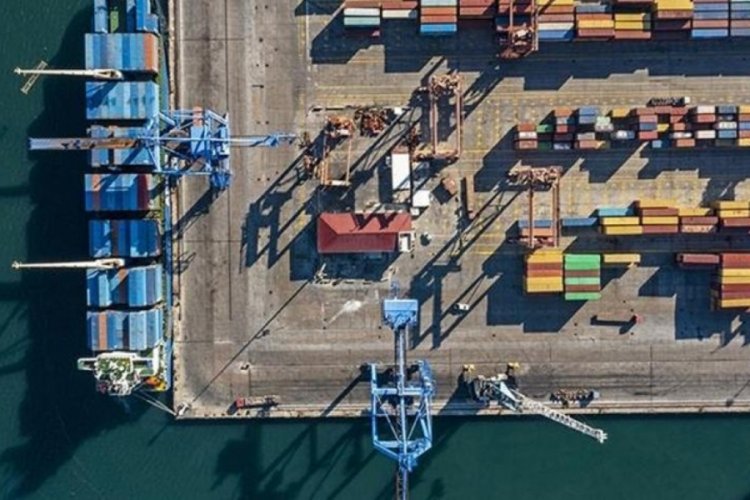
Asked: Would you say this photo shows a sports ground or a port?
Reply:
port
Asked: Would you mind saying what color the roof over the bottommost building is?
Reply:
red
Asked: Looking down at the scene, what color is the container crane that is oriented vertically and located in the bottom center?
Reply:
blue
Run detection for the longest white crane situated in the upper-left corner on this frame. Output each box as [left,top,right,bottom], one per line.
[13,67,130,81]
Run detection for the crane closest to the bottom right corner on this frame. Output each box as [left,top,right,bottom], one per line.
[464,364,611,441]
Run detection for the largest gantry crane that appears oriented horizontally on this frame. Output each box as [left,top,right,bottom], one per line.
[35,102,297,190]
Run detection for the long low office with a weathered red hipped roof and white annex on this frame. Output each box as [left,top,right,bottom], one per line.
[318,213,412,253]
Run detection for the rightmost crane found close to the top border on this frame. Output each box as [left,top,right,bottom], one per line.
[491,0,540,70]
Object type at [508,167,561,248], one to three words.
container crane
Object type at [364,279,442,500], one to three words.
container crane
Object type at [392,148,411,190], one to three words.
shed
